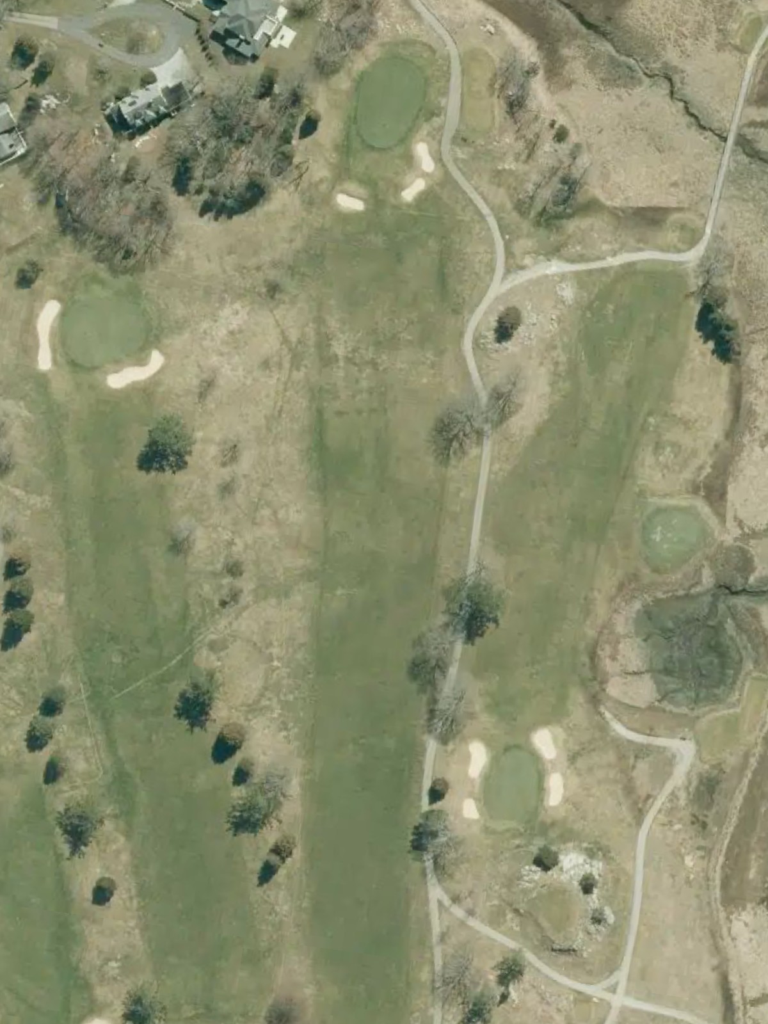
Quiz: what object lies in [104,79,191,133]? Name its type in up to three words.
house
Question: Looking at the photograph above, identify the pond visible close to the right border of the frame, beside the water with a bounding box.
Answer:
[636,591,742,703]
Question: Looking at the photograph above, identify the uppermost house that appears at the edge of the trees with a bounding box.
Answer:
[209,0,296,65]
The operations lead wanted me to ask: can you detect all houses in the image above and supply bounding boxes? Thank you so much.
[209,0,296,65]
[104,79,191,133]
[0,100,26,163]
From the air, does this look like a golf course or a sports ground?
golf course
